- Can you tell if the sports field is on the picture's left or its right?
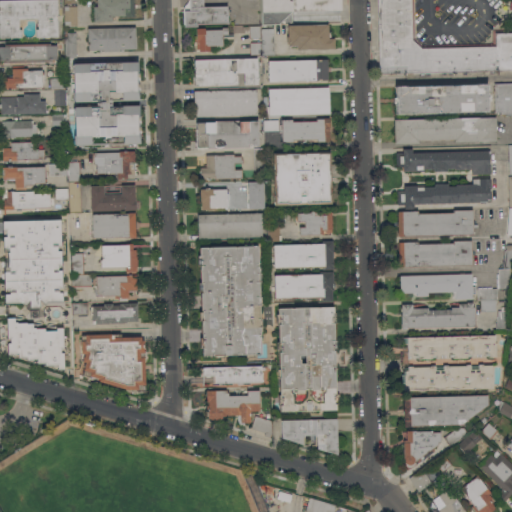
left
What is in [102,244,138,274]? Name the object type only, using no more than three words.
house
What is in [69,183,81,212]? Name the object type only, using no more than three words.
building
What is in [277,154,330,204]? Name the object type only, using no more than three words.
building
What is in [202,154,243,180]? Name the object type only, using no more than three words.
house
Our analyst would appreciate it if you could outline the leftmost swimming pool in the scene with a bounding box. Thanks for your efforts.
[20,20,38,38]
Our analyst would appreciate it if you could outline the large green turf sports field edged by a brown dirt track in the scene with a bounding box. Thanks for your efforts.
[0,421,259,512]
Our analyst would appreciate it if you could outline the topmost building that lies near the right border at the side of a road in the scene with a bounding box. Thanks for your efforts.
[380,0,512,73]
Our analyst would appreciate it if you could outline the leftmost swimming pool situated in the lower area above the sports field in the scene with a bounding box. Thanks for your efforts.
[49,306,64,322]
